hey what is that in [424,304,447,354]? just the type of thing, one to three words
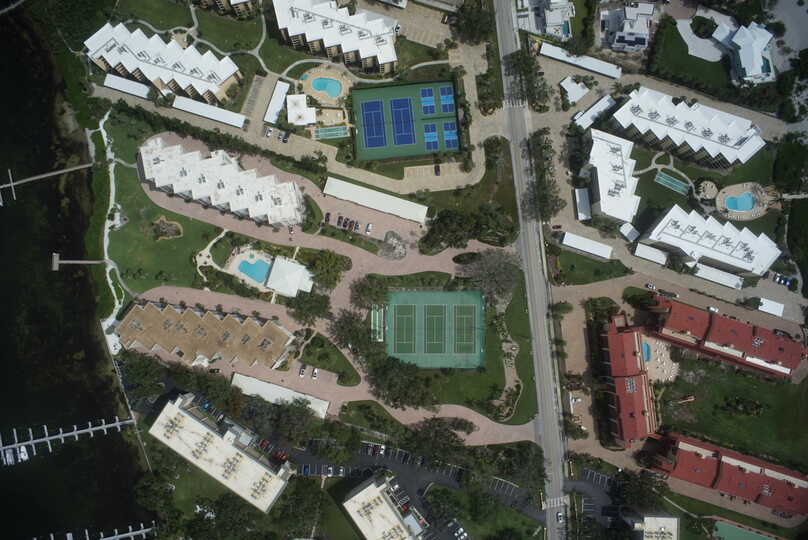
tennis court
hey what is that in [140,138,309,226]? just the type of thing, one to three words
building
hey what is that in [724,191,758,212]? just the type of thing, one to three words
swimming pool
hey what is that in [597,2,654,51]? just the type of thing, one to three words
house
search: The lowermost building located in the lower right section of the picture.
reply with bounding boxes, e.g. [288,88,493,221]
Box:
[630,511,681,540]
